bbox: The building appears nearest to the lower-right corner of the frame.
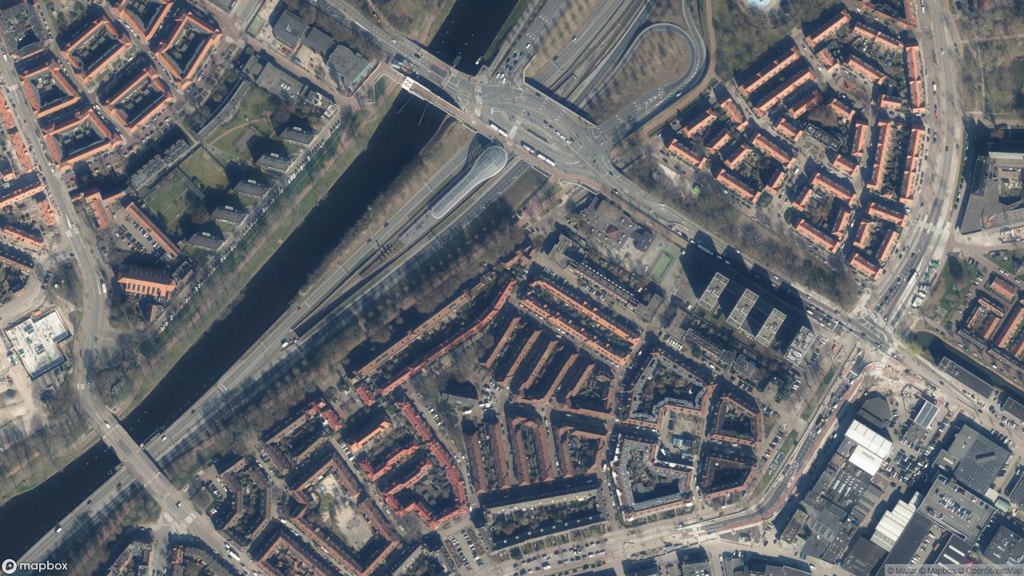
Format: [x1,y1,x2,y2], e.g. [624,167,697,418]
[984,526,1024,572]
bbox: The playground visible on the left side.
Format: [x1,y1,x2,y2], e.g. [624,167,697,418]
[318,474,374,551]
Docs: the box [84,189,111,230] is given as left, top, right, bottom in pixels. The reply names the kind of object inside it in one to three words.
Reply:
house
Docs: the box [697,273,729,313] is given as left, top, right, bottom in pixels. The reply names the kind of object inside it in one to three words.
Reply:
building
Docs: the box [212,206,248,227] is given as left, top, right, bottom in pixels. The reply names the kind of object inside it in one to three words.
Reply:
building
